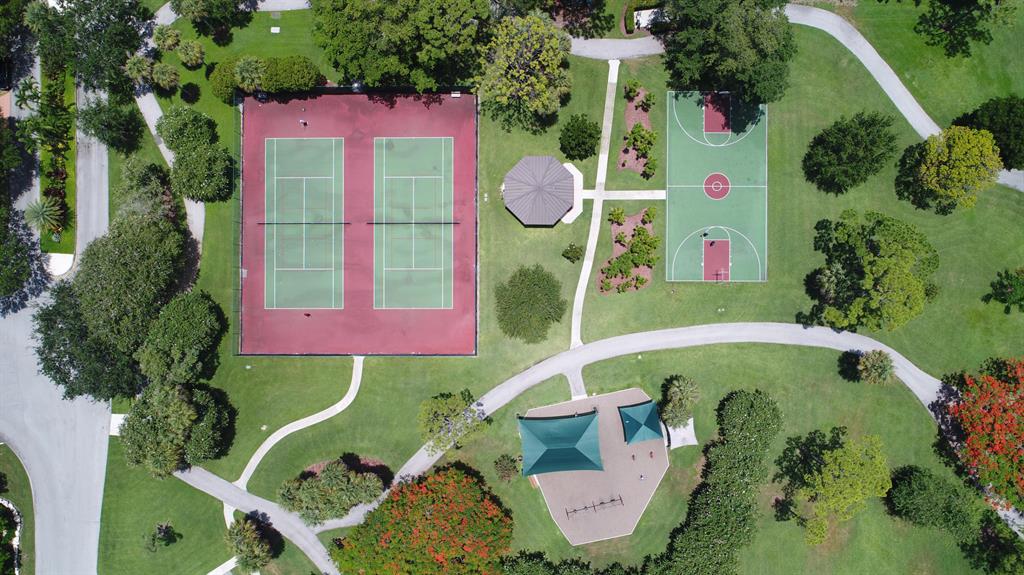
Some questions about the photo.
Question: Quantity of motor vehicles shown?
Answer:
0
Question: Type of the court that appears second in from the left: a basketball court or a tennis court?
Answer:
tennis court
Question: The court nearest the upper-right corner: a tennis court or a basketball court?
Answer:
basketball court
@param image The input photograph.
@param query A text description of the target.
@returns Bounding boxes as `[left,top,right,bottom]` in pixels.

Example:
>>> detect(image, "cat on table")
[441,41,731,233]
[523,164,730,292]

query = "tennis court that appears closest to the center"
[374,138,453,309]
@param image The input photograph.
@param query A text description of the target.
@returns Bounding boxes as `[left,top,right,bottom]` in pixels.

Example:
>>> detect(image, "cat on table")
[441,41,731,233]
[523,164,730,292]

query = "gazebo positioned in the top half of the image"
[504,156,583,224]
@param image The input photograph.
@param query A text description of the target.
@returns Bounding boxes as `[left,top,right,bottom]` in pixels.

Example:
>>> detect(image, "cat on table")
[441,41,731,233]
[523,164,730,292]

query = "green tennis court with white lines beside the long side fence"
[265,138,343,309]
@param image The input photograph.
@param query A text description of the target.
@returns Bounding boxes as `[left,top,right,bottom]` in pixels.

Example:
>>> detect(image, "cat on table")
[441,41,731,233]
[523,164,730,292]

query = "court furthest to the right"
[667,91,767,282]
